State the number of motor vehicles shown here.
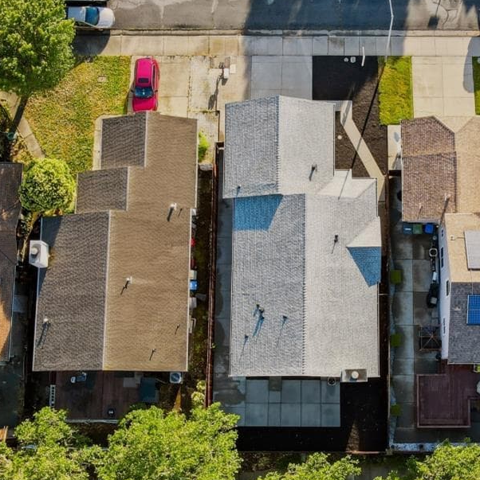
2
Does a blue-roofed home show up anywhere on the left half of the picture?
No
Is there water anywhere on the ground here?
No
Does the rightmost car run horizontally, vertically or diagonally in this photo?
vertically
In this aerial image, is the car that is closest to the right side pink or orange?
pink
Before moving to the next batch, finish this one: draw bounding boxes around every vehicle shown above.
[132,60,158,109]
[64,5,119,32]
